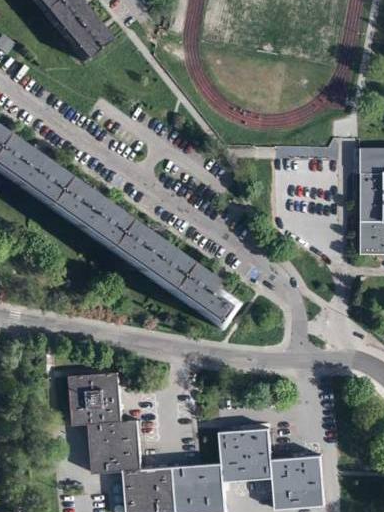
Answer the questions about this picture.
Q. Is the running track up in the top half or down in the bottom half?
top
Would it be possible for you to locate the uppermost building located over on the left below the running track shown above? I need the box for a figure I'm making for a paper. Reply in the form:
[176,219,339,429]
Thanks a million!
[0,126,238,323]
